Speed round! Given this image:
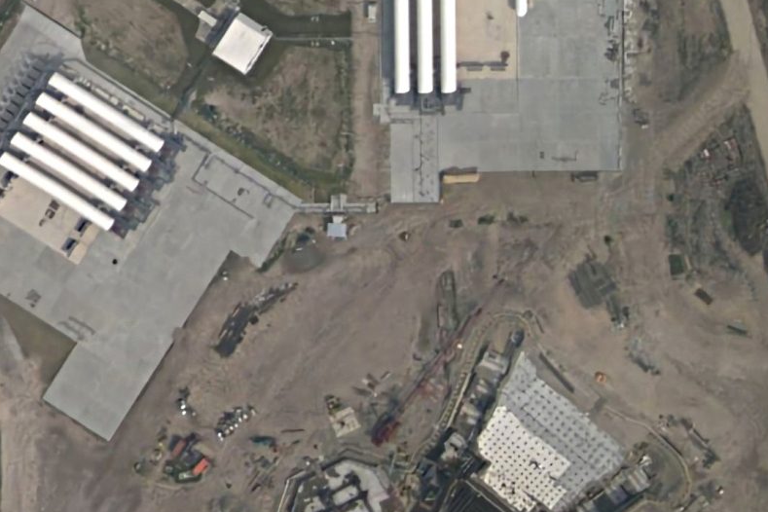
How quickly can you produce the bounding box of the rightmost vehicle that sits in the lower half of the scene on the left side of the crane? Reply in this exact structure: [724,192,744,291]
[325,392,341,412]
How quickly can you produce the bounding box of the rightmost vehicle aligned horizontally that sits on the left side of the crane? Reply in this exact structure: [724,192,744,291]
[252,433,277,446]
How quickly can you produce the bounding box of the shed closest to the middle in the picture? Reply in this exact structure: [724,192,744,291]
[326,222,347,241]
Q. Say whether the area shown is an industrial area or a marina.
industrial area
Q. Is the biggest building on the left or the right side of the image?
left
